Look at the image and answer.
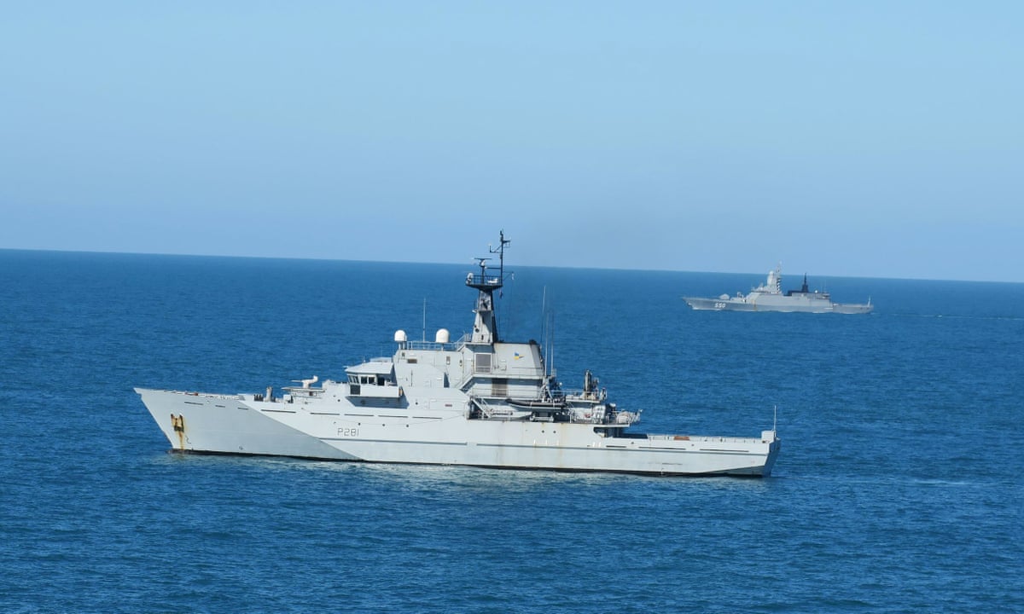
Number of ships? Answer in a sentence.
Altogether the scene contains 2 ships.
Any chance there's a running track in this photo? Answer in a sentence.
No, I can't see a single running track in this photo.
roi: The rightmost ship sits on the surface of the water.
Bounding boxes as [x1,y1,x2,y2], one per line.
[684,262,873,314]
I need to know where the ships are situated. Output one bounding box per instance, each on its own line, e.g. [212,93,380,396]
[134,231,780,476]
[684,262,873,314]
